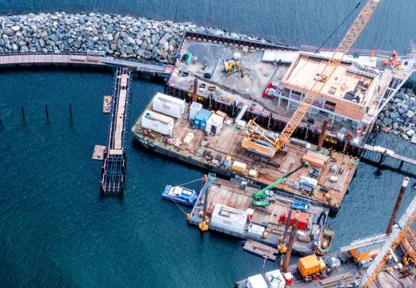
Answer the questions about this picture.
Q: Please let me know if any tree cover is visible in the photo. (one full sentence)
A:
No, no tree cover is visible.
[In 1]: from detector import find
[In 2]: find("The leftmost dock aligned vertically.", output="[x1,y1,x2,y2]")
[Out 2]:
[102,64,134,201]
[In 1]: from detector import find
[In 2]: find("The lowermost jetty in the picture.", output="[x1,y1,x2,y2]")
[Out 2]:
[242,241,279,264]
